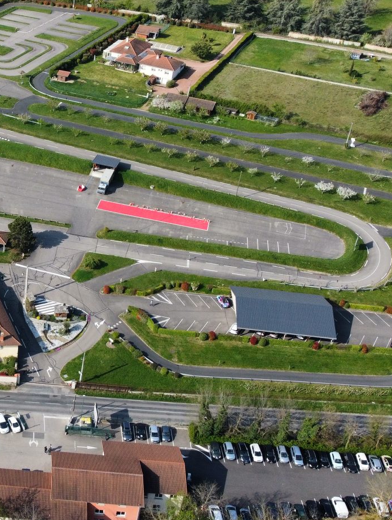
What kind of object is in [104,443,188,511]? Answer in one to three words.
building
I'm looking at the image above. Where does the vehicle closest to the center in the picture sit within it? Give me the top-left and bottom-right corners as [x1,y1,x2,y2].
[216,295,230,307]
